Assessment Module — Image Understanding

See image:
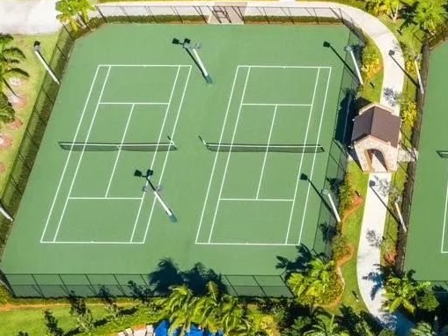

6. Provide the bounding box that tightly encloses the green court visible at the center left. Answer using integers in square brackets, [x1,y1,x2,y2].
[0,22,223,297]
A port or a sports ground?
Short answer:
sports ground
